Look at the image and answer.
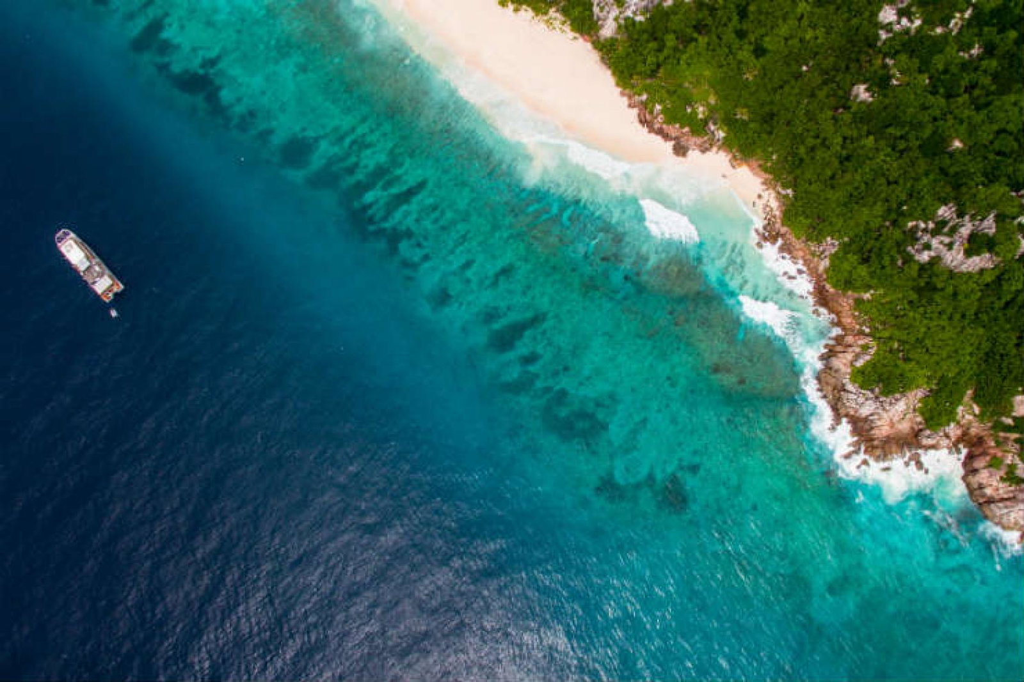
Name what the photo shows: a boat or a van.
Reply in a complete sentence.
Visible in the photo is a boat.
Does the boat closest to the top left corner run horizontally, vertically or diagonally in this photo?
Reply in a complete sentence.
I'd say the boat closest to the top left corner is aligned diagonally in the picture.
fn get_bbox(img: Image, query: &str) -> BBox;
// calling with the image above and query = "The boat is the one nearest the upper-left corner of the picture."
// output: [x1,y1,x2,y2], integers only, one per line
[54,229,125,301]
